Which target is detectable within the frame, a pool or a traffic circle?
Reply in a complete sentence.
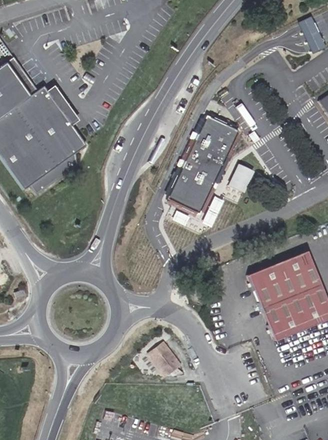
The image shows a traffic circle.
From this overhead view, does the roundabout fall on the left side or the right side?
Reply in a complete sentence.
The roundabout is on the left side of the image.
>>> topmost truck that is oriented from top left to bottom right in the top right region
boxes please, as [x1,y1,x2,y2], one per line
[234,102,258,128]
